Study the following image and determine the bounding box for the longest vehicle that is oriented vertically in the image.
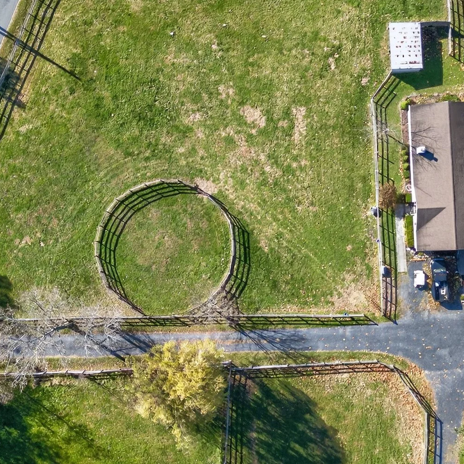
[433,260,451,303]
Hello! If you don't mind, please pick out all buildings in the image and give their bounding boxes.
[388,22,423,72]
[398,101,464,251]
